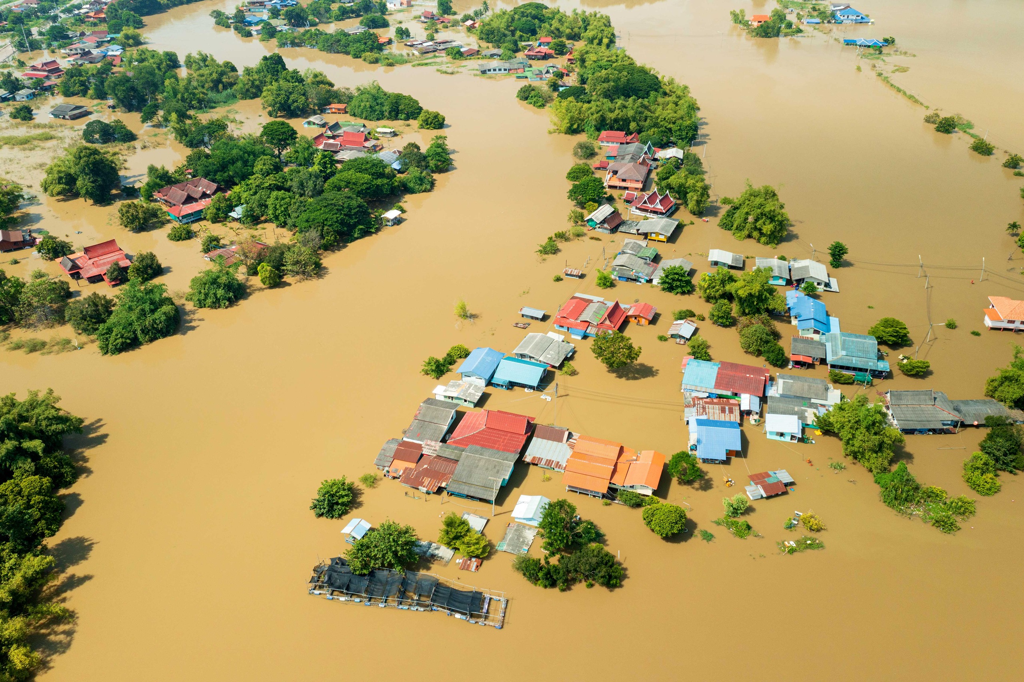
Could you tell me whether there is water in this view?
Yes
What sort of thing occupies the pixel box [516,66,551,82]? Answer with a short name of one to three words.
house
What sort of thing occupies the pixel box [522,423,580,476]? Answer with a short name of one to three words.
house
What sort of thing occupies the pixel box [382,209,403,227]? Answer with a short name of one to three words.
gazebo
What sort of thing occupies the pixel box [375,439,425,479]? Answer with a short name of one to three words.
shed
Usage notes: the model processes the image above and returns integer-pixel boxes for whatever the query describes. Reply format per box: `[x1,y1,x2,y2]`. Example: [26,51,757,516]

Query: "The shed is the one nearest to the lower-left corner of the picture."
[341,519,371,546]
